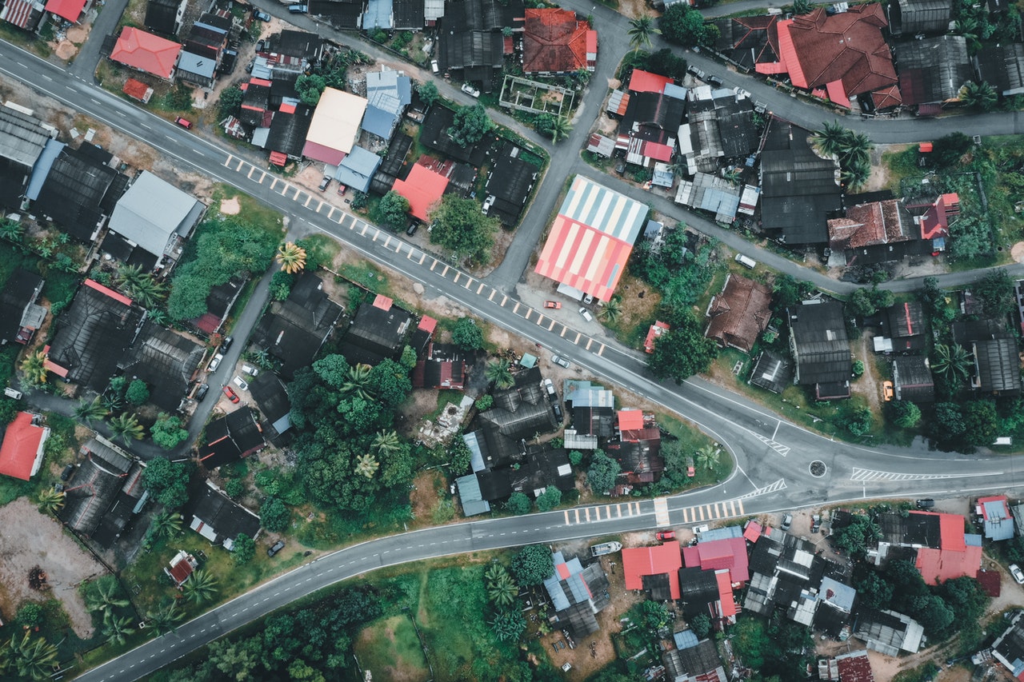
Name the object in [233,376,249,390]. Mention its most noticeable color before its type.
white car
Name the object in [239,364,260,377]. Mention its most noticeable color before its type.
white vehicle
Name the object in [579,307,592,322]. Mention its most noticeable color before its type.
white vehicle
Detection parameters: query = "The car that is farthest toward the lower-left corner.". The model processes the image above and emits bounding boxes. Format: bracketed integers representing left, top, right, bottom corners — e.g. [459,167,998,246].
[60,463,75,482]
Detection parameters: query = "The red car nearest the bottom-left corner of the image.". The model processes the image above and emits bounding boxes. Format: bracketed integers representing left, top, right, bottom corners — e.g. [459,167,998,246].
[223,387,239,403]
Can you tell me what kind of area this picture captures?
residential area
